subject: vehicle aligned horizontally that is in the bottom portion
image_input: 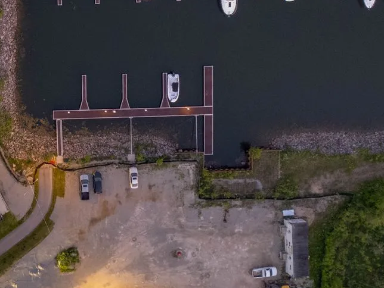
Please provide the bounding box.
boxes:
[250,265,279,278]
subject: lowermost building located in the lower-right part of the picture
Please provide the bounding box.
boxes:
[277,218,309,278]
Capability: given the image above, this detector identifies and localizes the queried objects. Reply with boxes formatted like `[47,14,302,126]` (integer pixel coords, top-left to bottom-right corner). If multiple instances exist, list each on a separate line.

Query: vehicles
[250,265,279,278]
[92,170,104,194]
[79,173,91,201]
[128,165,140,189]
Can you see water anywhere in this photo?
Yes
